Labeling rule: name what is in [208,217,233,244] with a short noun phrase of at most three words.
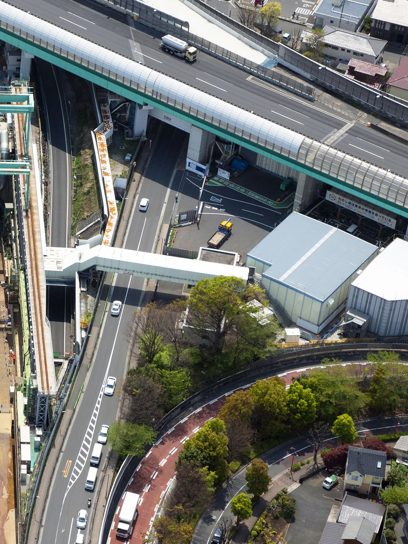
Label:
truck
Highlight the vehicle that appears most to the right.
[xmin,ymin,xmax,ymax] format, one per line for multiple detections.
[323,473,340,489]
